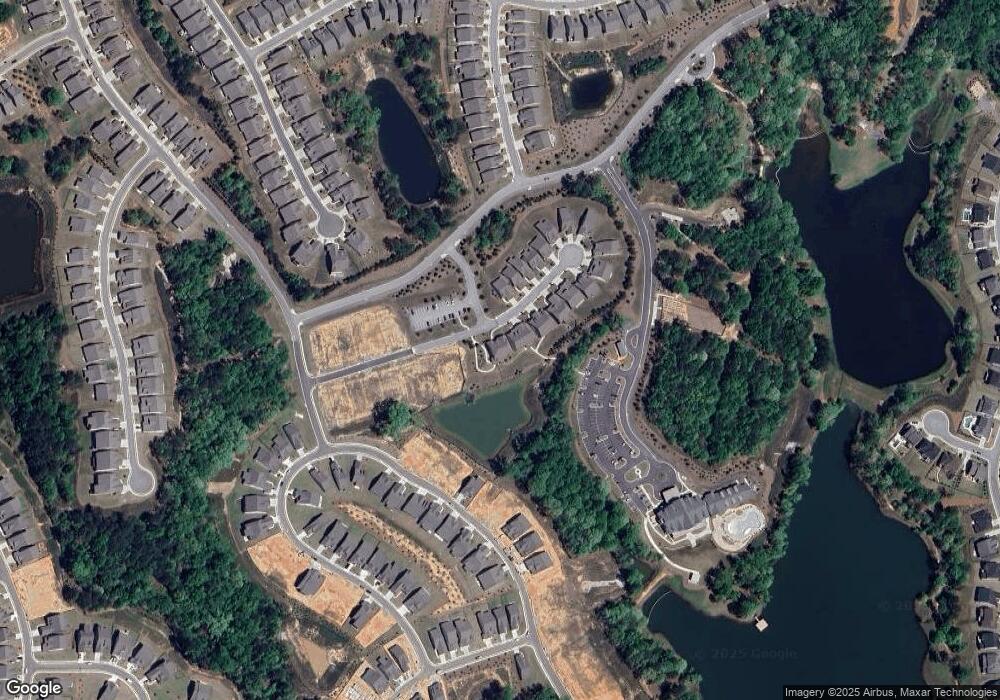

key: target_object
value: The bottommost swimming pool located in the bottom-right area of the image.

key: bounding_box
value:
[712,504,766,551]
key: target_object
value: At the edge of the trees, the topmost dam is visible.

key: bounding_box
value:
[837,369,893,408]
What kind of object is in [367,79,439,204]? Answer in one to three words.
pond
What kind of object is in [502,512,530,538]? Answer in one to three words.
house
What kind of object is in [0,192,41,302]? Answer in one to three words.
pond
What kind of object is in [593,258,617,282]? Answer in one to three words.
house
